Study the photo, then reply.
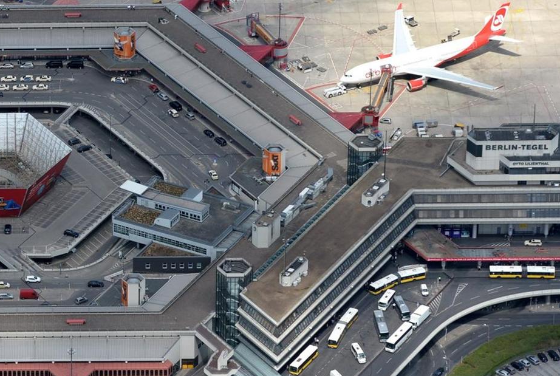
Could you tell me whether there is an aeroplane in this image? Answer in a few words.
Yes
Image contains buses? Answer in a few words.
Yes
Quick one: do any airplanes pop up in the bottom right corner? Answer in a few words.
No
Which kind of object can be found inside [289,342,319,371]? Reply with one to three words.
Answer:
bus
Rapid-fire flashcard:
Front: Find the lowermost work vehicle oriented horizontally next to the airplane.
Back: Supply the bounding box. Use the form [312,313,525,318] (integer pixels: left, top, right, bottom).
[322,83,347,96]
